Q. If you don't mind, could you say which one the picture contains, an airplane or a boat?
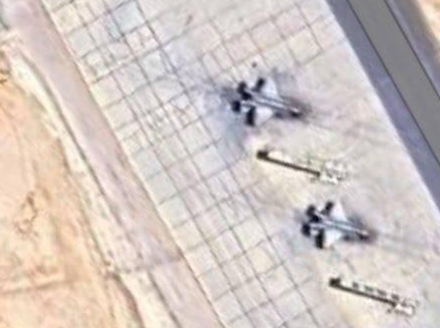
airplane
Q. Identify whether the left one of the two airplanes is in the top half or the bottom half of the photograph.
top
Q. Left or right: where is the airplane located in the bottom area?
right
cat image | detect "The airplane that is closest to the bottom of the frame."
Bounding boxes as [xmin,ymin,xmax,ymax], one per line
[311,204,376,248]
